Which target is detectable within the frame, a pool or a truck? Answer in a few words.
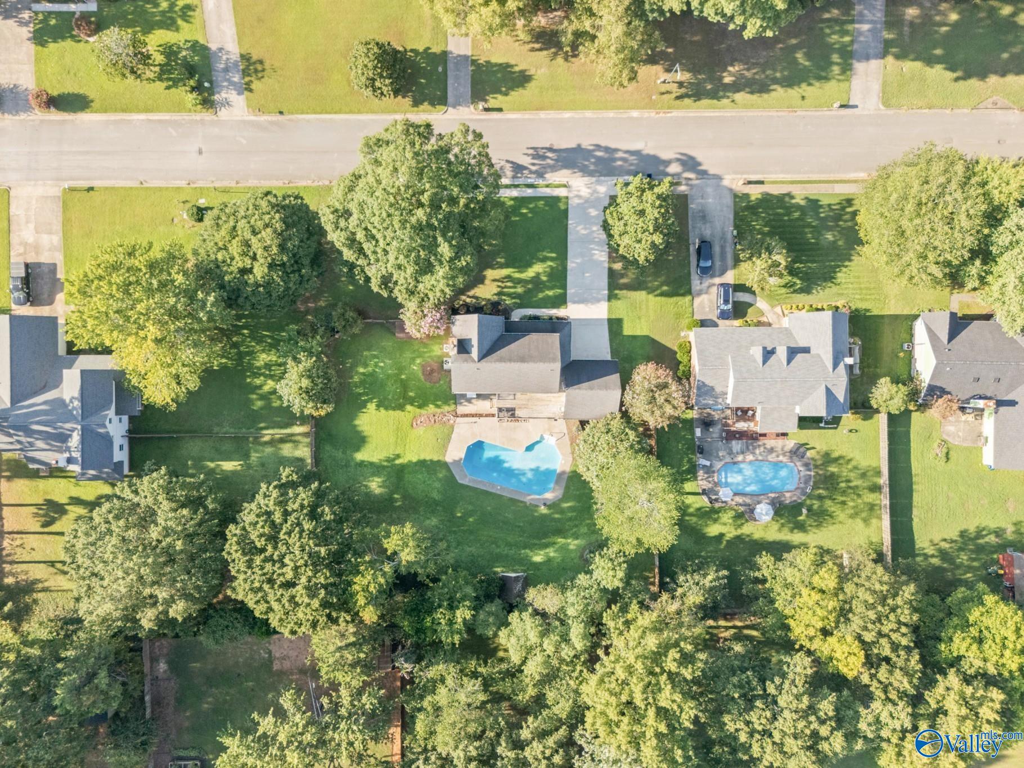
pool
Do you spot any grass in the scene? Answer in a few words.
Yes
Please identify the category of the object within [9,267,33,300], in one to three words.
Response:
car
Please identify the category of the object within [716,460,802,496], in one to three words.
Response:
swimming pool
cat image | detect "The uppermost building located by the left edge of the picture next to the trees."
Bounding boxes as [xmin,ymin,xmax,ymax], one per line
[0,314,148,481]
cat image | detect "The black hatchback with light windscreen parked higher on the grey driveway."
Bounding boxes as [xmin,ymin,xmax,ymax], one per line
[696,241,713,276]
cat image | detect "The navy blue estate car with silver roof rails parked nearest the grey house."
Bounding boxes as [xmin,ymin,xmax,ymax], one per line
[716,284,733,320]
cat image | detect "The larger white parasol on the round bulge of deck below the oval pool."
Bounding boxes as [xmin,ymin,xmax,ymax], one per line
[754,502,772,521]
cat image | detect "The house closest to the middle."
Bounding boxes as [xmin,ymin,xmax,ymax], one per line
[449,314,621,419]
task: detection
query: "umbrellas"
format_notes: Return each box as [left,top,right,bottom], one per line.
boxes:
[718,487,732,500]
[754,502,772,521]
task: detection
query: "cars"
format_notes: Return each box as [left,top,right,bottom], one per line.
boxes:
[9,267,33,300]
[716,284,733,320]
[696,241,713,276]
